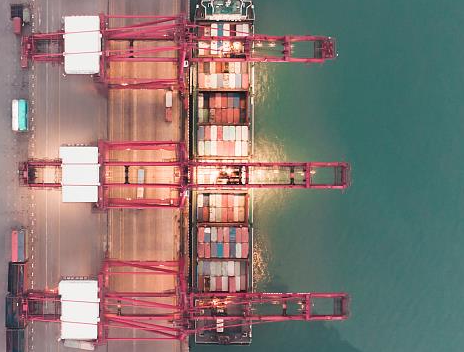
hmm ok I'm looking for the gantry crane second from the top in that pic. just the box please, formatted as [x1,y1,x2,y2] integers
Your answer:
[20,140,353,210]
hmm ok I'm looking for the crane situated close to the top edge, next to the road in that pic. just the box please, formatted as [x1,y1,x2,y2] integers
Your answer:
[20,15,340,106]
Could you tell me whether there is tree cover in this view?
No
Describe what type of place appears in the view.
port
